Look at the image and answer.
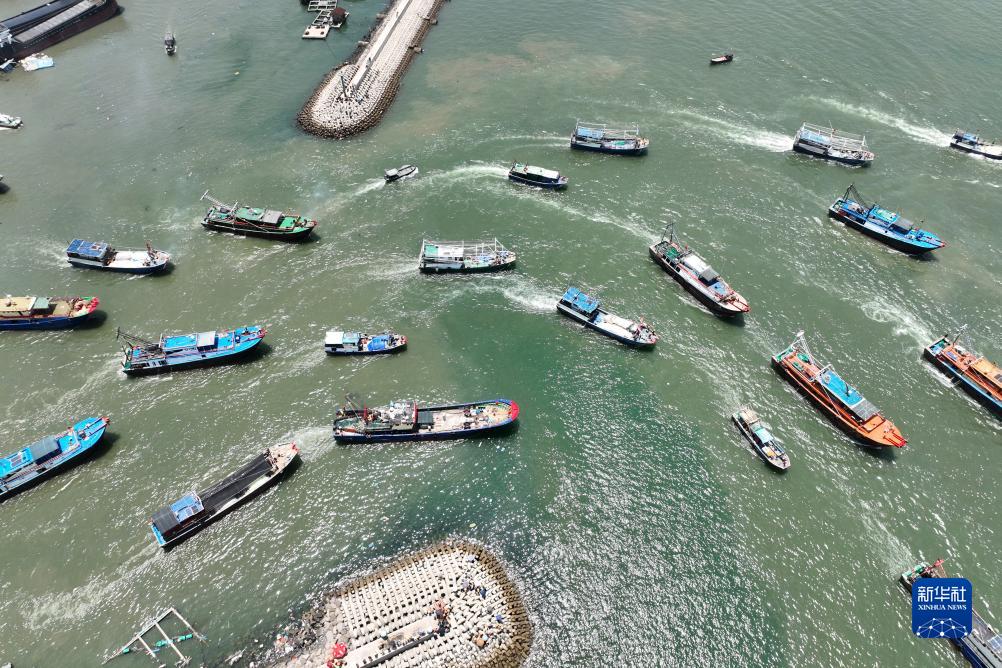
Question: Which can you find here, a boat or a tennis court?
boat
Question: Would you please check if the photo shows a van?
No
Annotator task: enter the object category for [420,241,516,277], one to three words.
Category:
boat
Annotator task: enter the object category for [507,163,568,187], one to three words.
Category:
boat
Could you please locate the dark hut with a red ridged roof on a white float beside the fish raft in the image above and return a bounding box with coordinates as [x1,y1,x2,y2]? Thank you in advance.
[330,9,350,26]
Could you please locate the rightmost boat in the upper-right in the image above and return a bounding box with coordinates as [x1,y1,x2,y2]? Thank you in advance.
[949,133,1002,162]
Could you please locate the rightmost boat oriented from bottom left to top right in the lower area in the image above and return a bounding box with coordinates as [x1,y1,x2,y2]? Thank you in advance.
[152,447,301,549]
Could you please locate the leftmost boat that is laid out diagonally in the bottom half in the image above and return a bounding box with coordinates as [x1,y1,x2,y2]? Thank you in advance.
[0,417,114,509]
